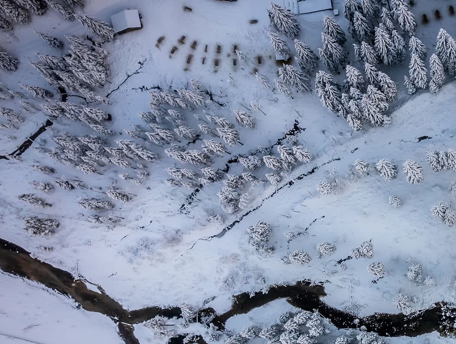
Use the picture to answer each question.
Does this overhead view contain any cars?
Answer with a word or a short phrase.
No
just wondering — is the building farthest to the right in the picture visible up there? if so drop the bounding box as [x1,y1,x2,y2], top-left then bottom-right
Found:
[298,0,332,15]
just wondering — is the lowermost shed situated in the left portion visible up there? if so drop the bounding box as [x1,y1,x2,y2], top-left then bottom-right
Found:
[114,9,145,34]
